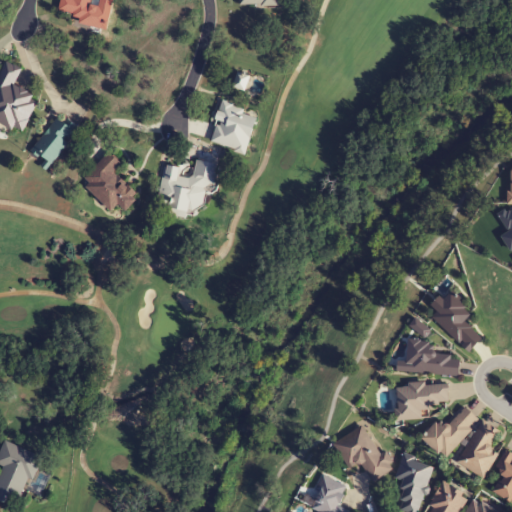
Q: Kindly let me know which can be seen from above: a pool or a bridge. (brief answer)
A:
pool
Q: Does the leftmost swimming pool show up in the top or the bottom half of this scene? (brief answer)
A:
bottom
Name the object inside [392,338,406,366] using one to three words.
swimming pool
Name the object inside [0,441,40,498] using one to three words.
house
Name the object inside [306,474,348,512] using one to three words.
house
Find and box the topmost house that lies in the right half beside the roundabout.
[433,292,485,352]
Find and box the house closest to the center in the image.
[160,159,216,212]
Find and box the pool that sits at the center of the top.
[238,70,266,99]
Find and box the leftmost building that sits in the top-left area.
[0,61,34,132]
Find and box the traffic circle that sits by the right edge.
[473,354,512,424]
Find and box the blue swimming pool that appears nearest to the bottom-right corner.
[378,384,396,413]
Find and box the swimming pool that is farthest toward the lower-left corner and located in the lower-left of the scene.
[28,470,50,492]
